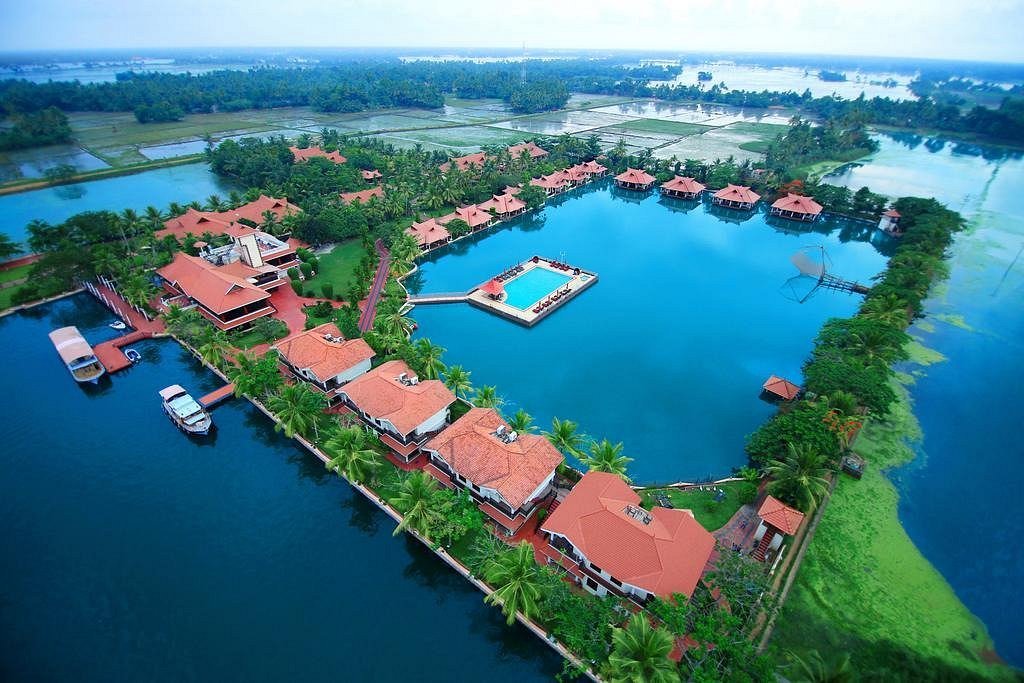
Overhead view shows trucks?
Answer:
No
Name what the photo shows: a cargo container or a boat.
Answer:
boat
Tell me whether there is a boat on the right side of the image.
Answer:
No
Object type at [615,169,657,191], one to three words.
house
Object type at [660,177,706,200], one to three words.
house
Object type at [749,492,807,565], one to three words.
building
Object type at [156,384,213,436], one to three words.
boat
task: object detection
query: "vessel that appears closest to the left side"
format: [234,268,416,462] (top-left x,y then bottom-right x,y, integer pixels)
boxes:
[46,326,104,384]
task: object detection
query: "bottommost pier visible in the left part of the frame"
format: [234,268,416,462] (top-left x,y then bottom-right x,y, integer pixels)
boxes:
[199,384,237,409]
